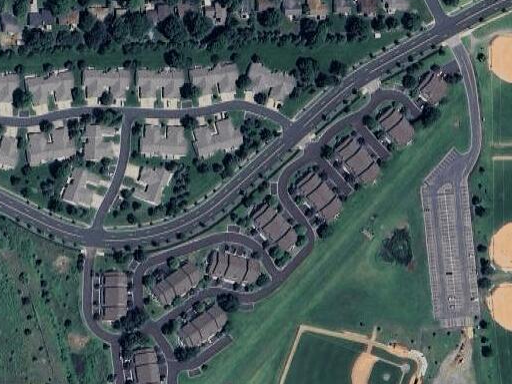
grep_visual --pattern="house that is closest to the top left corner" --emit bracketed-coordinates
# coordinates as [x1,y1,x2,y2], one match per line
[0,15,22,37]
